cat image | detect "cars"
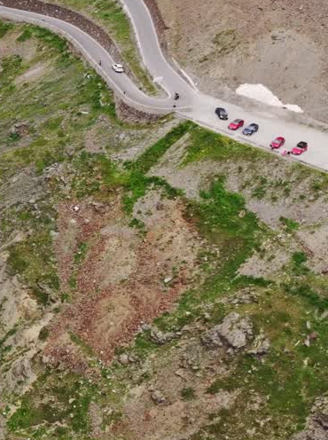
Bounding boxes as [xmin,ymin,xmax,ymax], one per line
[293,142,307,152]
[271,136,286,146]
[113,62,123,72]
[245,121,259,133]
[214,105,229,119]
[229,117,244,129]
